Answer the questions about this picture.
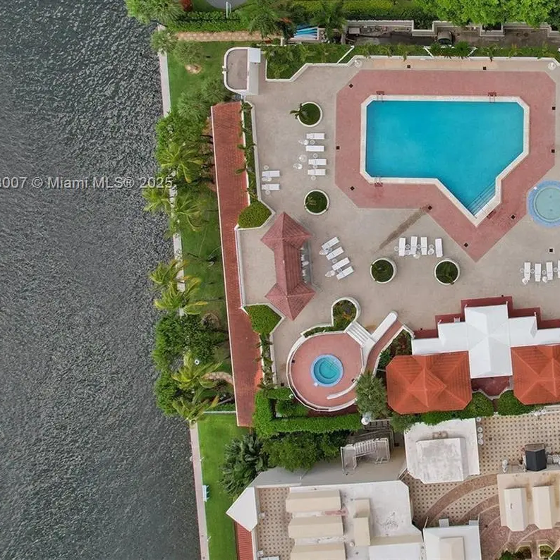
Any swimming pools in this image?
Yes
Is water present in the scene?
Yes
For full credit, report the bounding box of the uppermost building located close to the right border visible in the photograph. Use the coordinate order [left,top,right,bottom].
[386,301,560,414]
